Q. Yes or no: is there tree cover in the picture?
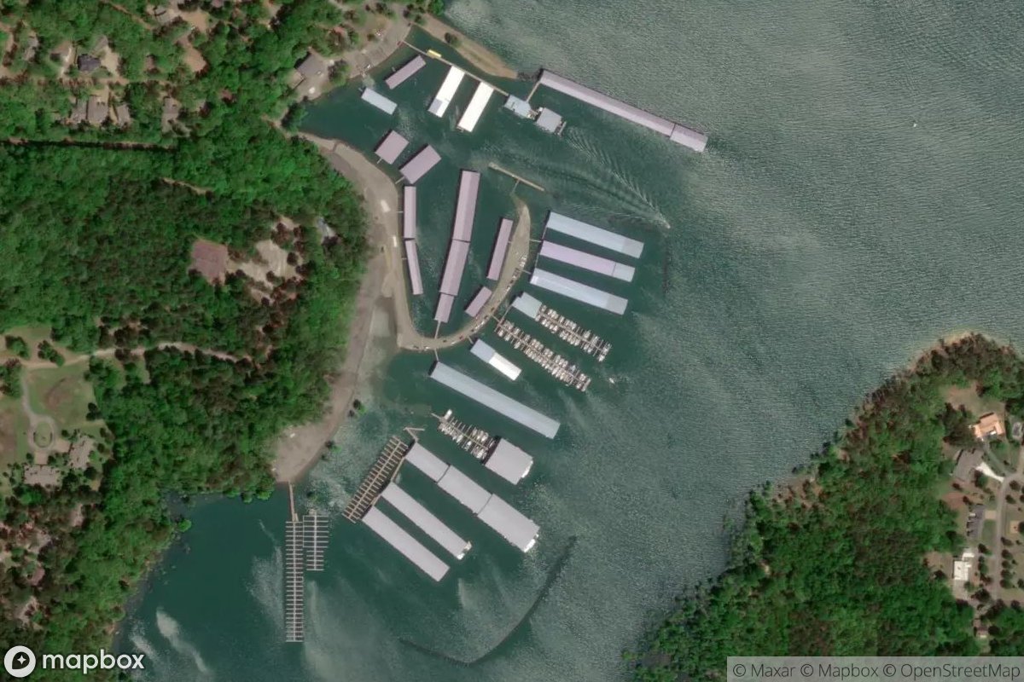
Yes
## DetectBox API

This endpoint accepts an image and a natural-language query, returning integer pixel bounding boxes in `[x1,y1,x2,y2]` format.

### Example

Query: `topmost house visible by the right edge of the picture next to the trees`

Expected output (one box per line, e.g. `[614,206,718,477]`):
[973,413,1006,438]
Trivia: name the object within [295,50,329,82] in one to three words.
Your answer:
building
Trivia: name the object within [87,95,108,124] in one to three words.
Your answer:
house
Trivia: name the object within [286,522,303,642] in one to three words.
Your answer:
pier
